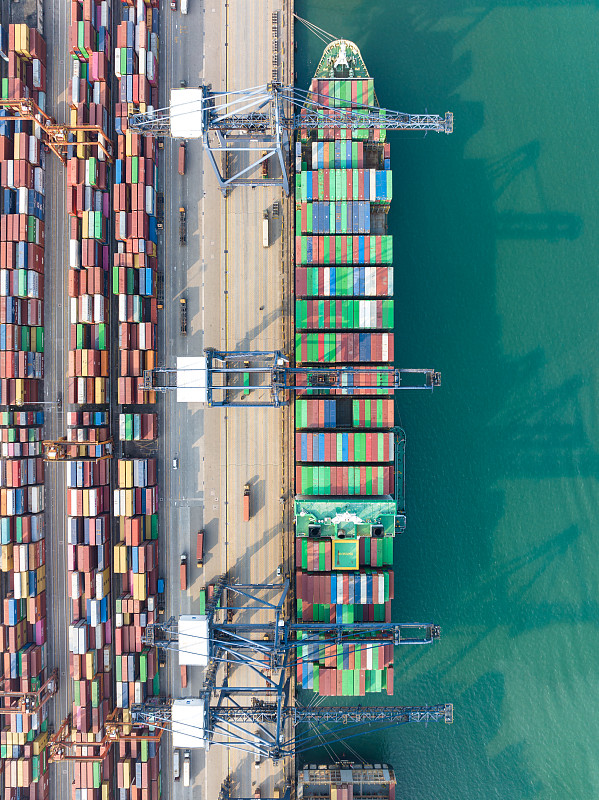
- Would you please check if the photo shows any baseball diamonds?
No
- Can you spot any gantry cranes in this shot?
Yes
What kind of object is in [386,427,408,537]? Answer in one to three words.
ship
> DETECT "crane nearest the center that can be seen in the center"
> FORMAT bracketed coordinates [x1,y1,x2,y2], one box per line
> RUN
[136,345,444,414]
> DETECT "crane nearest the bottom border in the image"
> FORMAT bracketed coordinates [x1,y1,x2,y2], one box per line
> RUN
[212,762,291,800]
